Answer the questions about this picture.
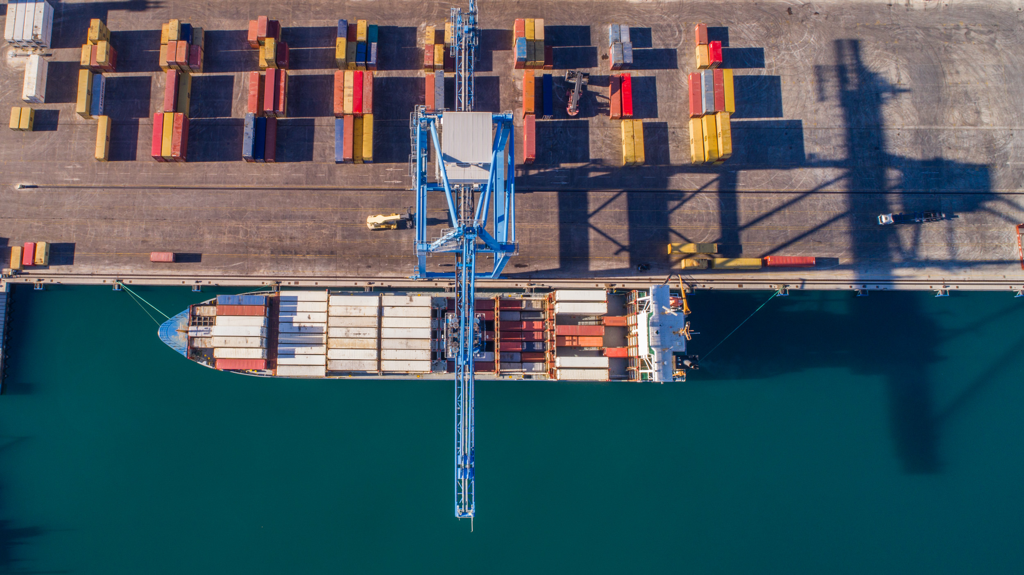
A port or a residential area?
port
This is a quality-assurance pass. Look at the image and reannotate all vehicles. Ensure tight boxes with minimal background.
[564,64,591,120]
[638,264,651,270]
[367,207,416,232]
[875,210,942,225]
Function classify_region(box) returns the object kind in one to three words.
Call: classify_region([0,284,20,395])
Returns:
pier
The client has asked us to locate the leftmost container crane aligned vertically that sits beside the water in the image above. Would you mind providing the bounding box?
[403,0,521,535]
